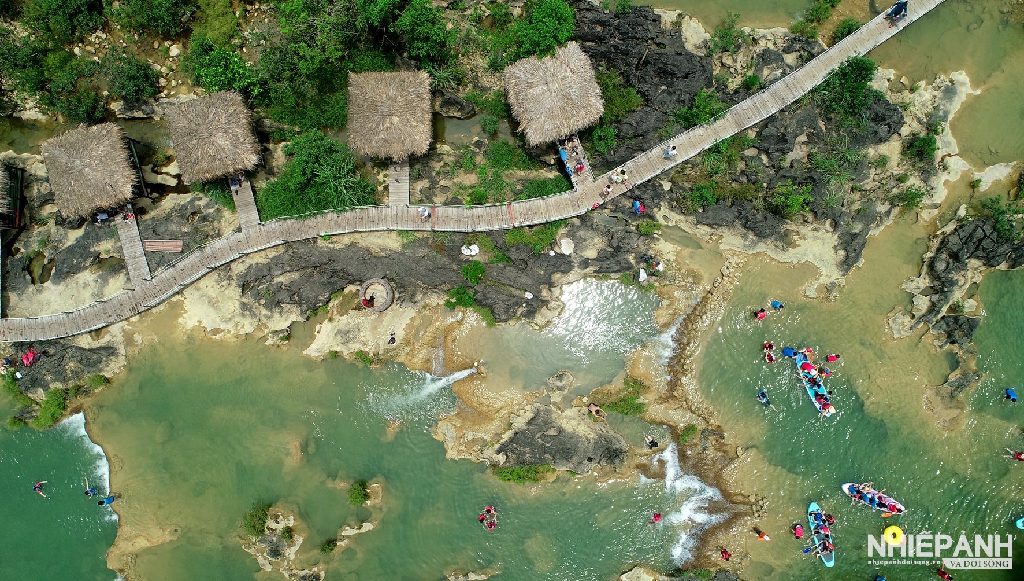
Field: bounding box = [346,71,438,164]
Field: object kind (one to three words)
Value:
shed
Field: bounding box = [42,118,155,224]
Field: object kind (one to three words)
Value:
shed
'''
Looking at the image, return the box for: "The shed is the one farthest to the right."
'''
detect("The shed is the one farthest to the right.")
[500,41,607,149]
